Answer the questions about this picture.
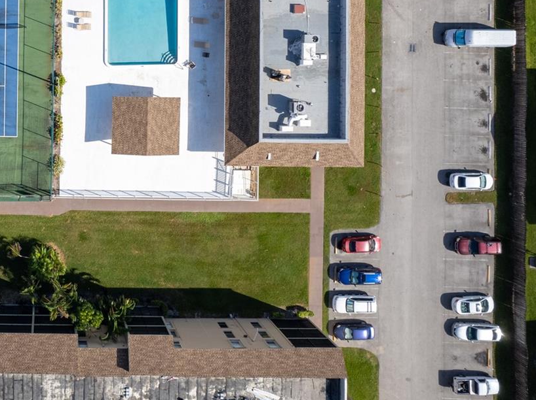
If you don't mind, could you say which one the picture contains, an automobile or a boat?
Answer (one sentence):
Visible in the photo is an automobile.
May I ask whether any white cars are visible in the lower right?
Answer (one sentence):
Yes, there is a white car in the lower right.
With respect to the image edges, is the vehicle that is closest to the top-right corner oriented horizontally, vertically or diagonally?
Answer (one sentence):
What the image shows is the vehicle that is closest to the top-right corner lying horizontally.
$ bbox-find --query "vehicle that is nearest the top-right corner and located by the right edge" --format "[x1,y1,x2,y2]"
[440,28,515,50]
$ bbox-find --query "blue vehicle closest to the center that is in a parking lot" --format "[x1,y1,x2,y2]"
[336,266,383,287]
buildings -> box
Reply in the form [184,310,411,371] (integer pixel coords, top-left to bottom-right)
[111,97,180,155]
[222,0,365,167]
[0,304,346,400]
